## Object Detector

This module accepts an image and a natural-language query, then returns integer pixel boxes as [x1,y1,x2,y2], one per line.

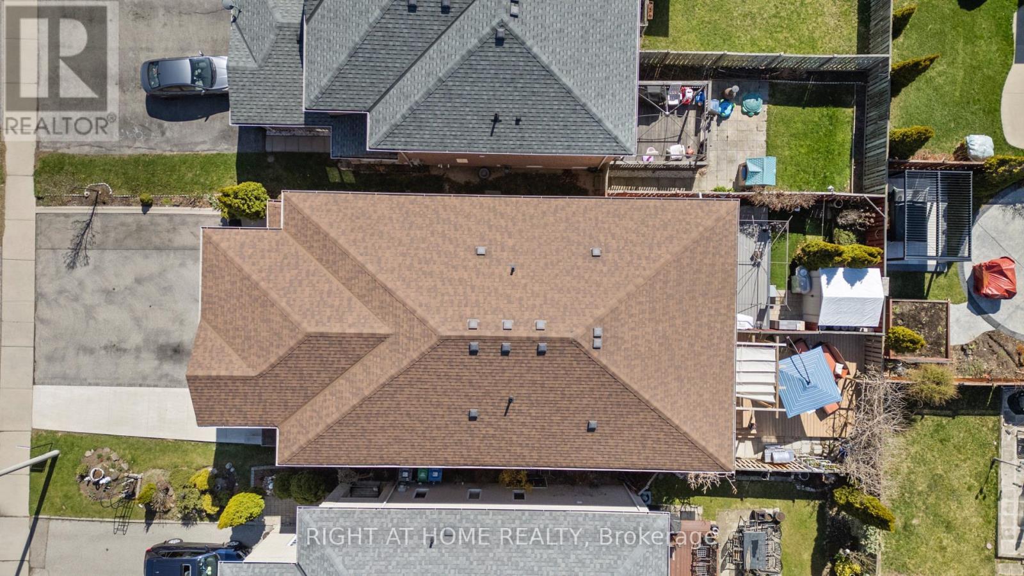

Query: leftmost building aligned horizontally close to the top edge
[227,0,637,169]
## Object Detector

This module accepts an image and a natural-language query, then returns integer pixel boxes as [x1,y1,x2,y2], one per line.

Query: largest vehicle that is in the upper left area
[143,52,230,100]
